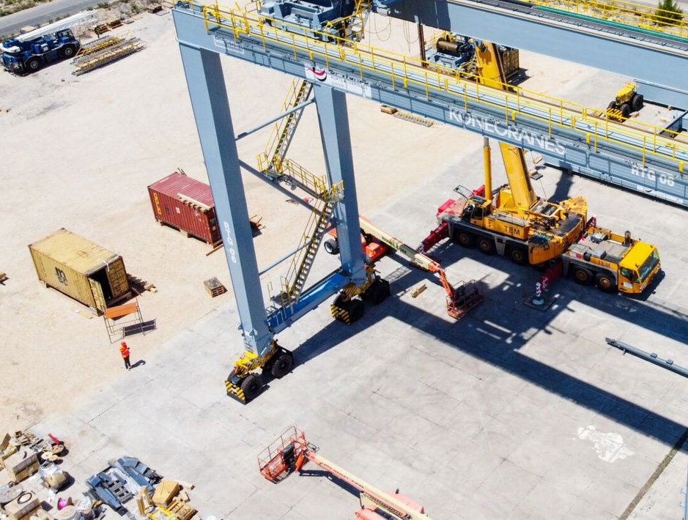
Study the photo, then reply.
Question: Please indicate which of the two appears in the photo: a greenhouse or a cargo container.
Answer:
cargo container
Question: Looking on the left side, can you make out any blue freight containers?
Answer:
No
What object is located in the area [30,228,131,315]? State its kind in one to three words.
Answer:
shipping container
